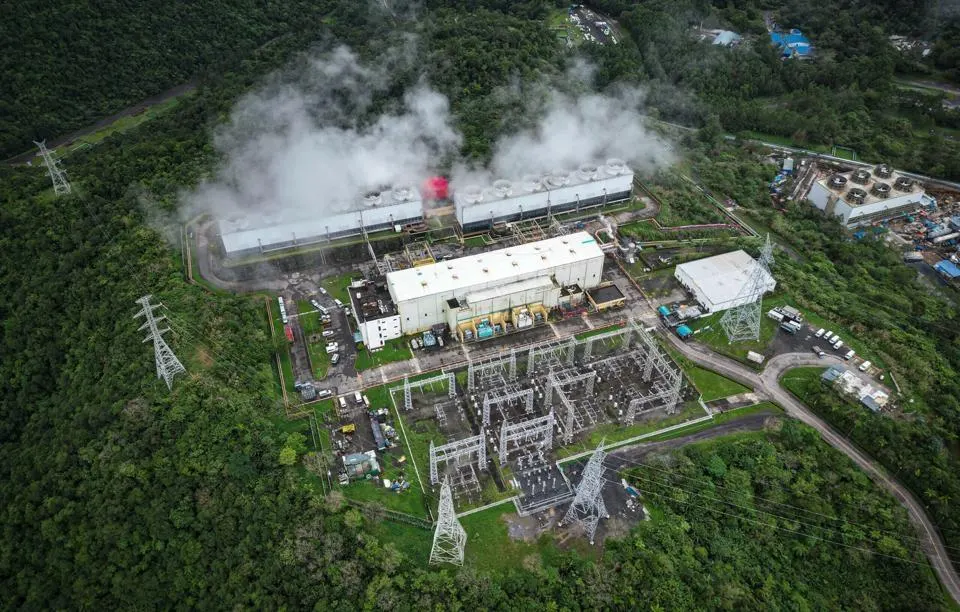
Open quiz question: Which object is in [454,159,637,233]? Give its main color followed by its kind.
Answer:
white cooling tower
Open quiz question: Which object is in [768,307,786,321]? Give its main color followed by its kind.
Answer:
white vehicle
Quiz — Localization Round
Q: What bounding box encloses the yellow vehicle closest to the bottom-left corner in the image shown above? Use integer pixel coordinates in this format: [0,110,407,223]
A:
[327,422,354,435]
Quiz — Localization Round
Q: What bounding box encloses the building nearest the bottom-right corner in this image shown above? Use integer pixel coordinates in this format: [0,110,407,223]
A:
[817,360,891,411]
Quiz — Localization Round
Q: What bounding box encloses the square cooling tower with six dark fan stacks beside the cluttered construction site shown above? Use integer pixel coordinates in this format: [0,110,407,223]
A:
[802,166,926,232]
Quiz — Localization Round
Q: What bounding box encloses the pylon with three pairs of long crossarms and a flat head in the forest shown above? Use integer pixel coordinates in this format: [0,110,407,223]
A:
[135,294,186,379]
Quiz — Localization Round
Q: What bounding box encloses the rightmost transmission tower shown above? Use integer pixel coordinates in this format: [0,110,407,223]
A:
[716,232,772,344]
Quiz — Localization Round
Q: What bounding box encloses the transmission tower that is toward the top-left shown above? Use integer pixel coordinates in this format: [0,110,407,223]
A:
[38,142,71,190]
